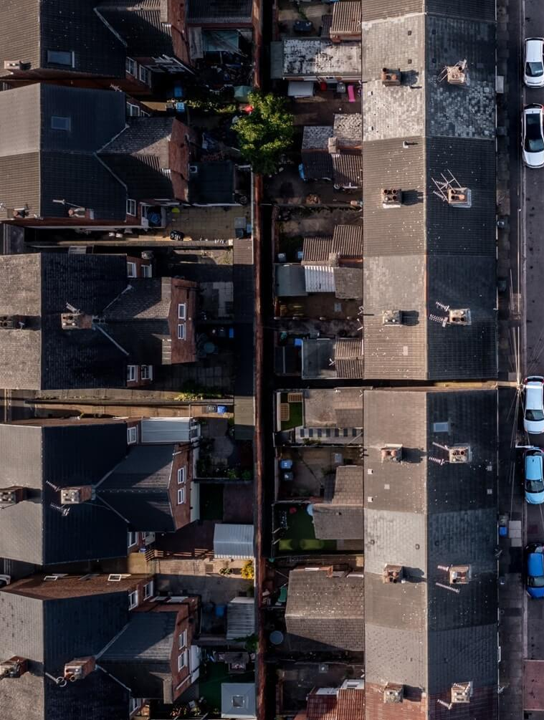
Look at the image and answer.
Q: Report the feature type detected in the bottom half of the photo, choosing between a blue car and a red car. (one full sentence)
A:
You can see a blue car in the bottom half of the photo.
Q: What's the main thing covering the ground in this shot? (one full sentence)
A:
The bulk of the photo consists of buildings.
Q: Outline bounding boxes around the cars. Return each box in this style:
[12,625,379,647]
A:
[524,37,544,87]
[519,447,544,504]
[520,542,544,598]
[522,103,544,169]
[520,376,544,433]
